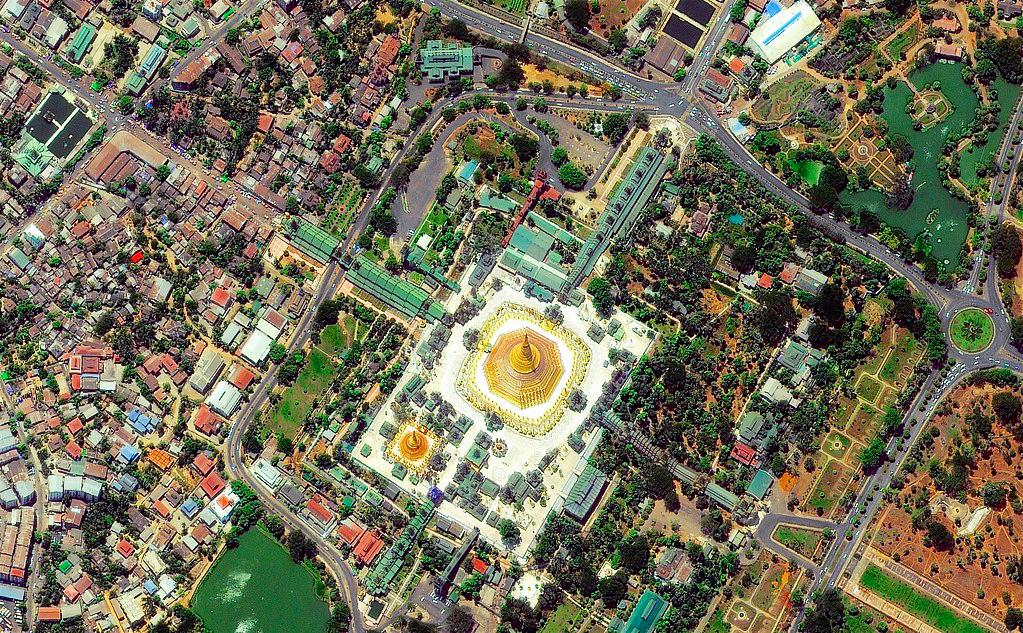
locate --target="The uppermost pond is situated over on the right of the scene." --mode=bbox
[660,0,718,52]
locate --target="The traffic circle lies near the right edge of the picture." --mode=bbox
[949,308,995,354]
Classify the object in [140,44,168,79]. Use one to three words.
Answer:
house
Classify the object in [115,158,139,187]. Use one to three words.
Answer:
shed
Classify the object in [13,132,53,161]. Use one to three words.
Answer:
building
